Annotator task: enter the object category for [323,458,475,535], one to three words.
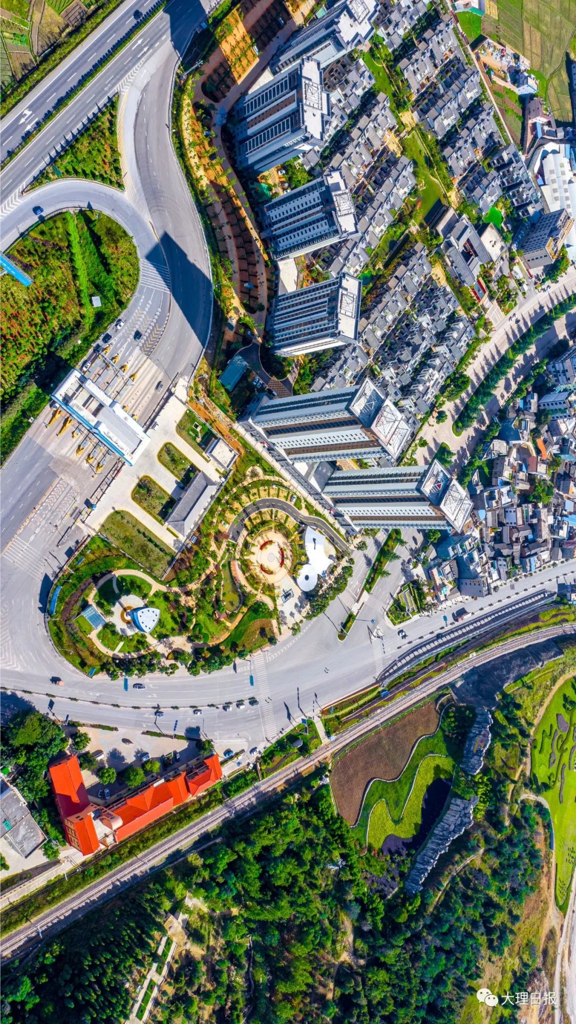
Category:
building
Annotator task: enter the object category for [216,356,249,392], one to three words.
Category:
shed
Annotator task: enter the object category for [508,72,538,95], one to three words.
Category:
house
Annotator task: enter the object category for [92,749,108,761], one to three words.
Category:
vehicle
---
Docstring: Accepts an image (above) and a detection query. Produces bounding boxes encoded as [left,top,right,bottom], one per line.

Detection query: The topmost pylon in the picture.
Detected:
[181,62,210,82]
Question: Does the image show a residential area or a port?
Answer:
residential area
